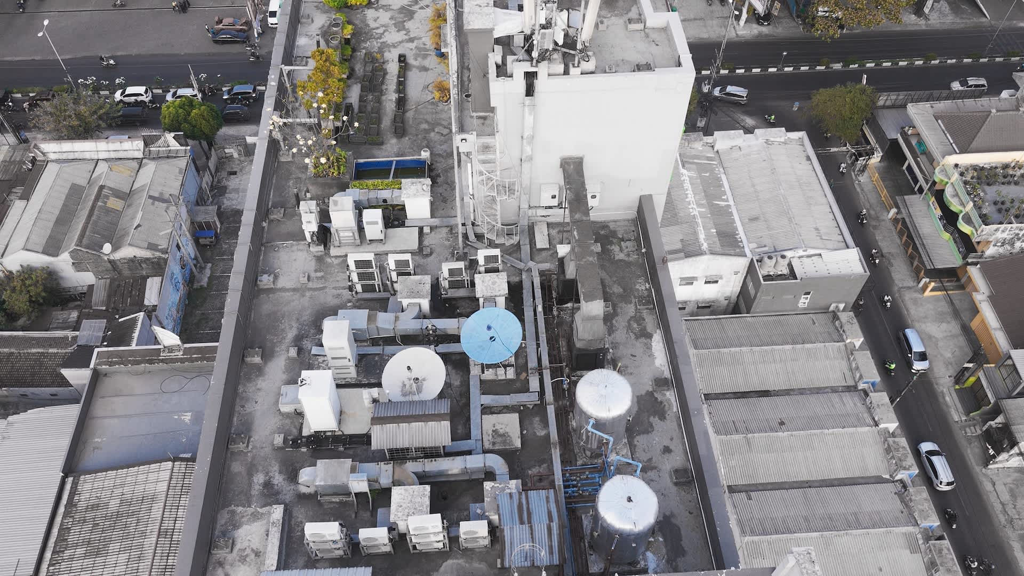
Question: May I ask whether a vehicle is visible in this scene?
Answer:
Yes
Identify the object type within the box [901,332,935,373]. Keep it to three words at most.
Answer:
car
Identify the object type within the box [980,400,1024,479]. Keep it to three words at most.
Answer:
house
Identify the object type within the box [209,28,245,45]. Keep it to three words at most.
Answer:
car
